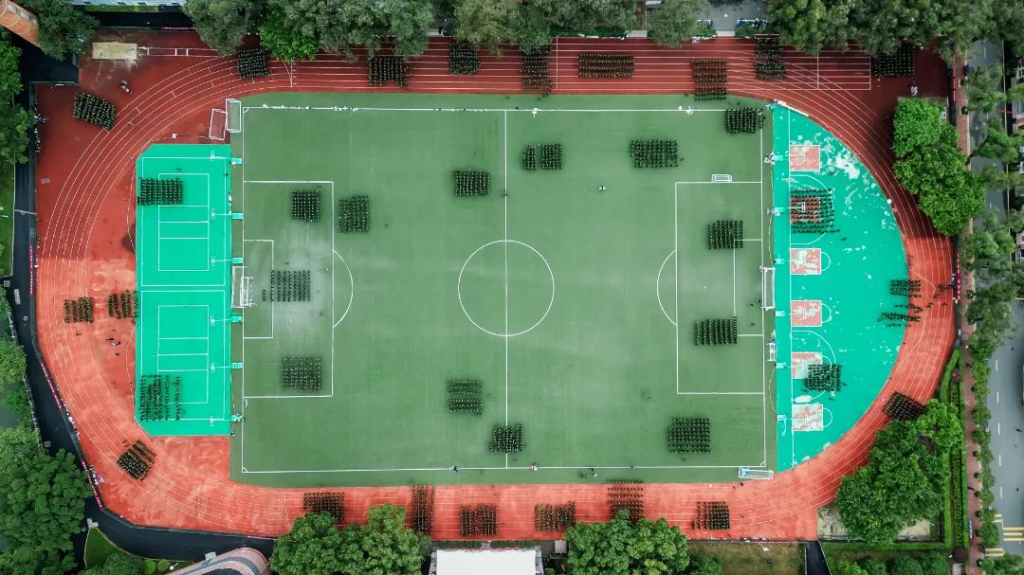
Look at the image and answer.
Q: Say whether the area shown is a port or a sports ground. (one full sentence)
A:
This looks like a sports ground.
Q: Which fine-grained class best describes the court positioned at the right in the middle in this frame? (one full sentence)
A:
The court positioned at the right in the middle can be classified as a basketball court.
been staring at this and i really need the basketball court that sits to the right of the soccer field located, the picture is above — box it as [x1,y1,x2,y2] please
[774,105,907,471]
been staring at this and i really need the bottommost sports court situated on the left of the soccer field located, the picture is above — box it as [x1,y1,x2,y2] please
[136,288,230,436]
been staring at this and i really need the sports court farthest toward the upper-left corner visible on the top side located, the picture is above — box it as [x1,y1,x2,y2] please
[136,144,231,288]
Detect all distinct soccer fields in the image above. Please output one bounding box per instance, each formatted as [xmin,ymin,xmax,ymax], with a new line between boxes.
[229,92,777,487]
